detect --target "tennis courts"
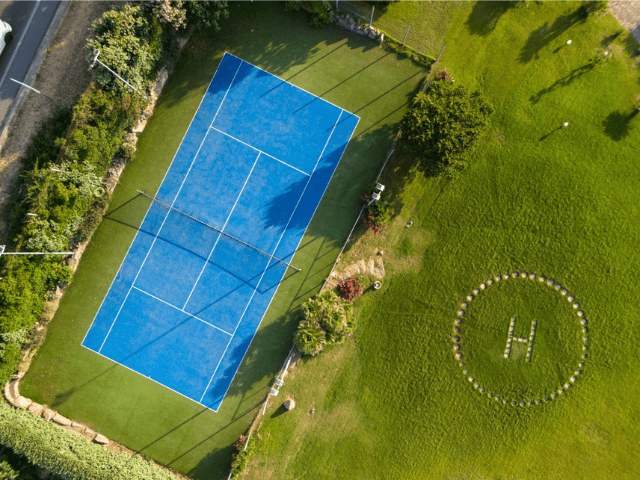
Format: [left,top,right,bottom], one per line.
[19,0,431,480]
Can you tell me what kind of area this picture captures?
sports ground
